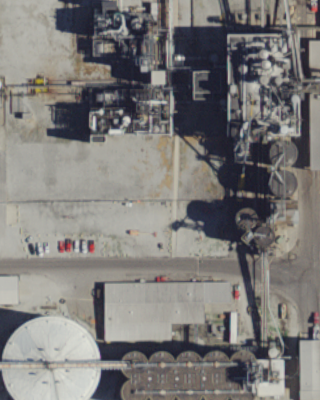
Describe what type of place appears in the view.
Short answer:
industrial area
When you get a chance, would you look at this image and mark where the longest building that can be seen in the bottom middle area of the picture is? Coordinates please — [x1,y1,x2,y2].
[103,282,230,340]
